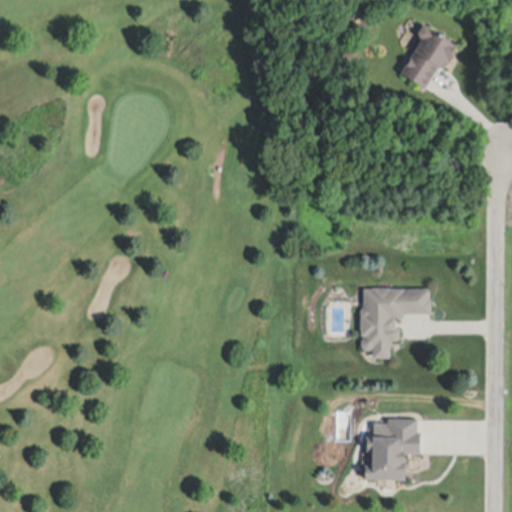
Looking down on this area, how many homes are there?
3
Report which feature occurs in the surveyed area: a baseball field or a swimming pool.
swimming pool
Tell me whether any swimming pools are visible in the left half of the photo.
No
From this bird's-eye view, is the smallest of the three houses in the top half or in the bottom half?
top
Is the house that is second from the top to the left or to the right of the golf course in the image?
right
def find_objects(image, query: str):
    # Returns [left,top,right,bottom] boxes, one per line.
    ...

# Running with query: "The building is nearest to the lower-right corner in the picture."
[366,420,422,482]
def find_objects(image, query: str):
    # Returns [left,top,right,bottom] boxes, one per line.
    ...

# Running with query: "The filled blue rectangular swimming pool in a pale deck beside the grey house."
[327,301,352,338]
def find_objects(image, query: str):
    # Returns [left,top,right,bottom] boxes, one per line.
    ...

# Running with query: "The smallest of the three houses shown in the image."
[402,22,456,88]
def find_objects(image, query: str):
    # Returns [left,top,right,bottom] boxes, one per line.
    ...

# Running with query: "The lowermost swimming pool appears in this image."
[336,408,352,442]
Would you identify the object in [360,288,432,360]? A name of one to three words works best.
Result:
house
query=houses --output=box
[366,420,422,482]
[360,288,432,360]
[402,22,456,88]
